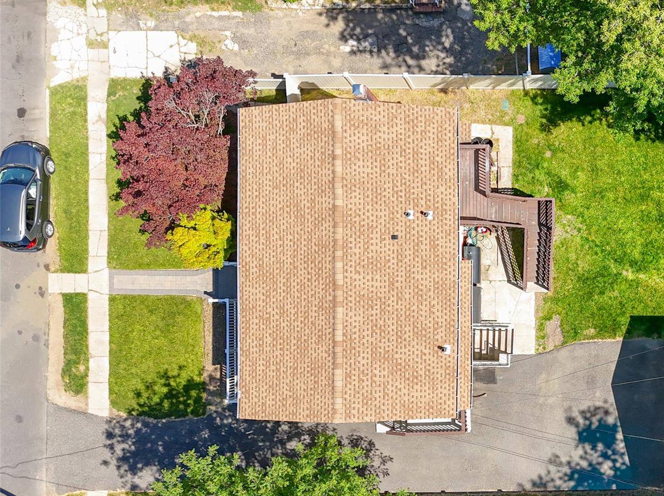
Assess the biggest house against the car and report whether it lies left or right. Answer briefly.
to its right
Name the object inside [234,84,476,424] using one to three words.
house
